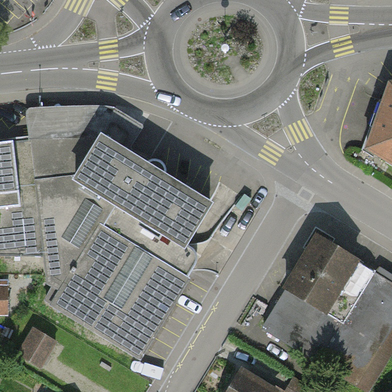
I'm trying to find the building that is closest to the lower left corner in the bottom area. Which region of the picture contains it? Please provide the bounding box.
[22,327,58,368]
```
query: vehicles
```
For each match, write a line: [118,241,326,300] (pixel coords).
[234,350,256,364]
[268,342,288,360]
[170,2,192,19]
[239,206,256,229]
[178,296,202,312]
[221,212,238,236]
[252,186,268,208]
[130,361,165,381]
[10,100,29,116]
[158,91,181,105]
